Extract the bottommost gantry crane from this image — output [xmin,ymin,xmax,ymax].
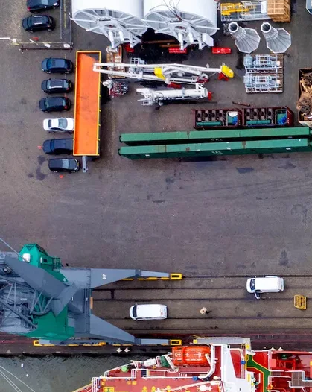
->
[0,237,179,345]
